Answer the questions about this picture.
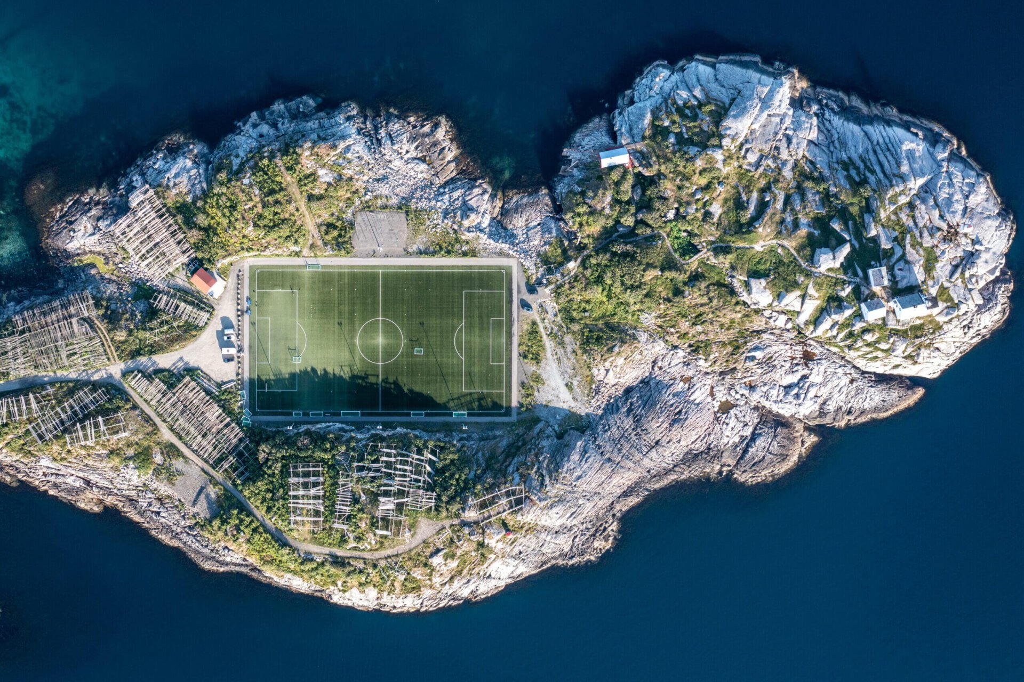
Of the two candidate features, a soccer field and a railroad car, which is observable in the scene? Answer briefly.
soccer field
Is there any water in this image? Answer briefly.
Yes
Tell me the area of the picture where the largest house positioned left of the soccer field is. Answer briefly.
left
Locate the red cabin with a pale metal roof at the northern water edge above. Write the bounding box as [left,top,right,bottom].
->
[598,145,632,168]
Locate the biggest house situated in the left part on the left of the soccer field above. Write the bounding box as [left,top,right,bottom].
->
[190,268,217,293]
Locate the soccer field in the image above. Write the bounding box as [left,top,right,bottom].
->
[249,265,512,417]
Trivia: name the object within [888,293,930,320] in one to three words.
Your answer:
house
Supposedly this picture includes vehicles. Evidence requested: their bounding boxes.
[220,348,236,354]
[522,305,534,314]
[223,328,235,334]
[223,335,234,340]
[528,290,538,295]
[222,357,234,363]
